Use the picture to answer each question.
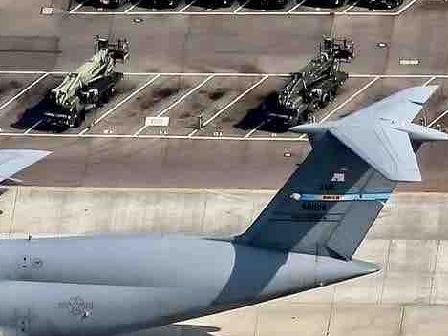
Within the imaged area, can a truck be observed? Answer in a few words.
Yes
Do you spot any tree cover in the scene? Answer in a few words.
No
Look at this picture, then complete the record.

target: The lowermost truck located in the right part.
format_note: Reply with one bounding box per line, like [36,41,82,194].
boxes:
[272,31,350,134]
